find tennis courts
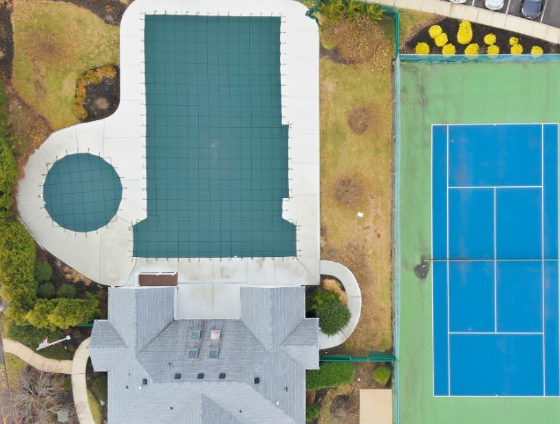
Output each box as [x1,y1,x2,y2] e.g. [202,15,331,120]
[399,61,560,424]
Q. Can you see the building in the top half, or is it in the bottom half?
bottom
